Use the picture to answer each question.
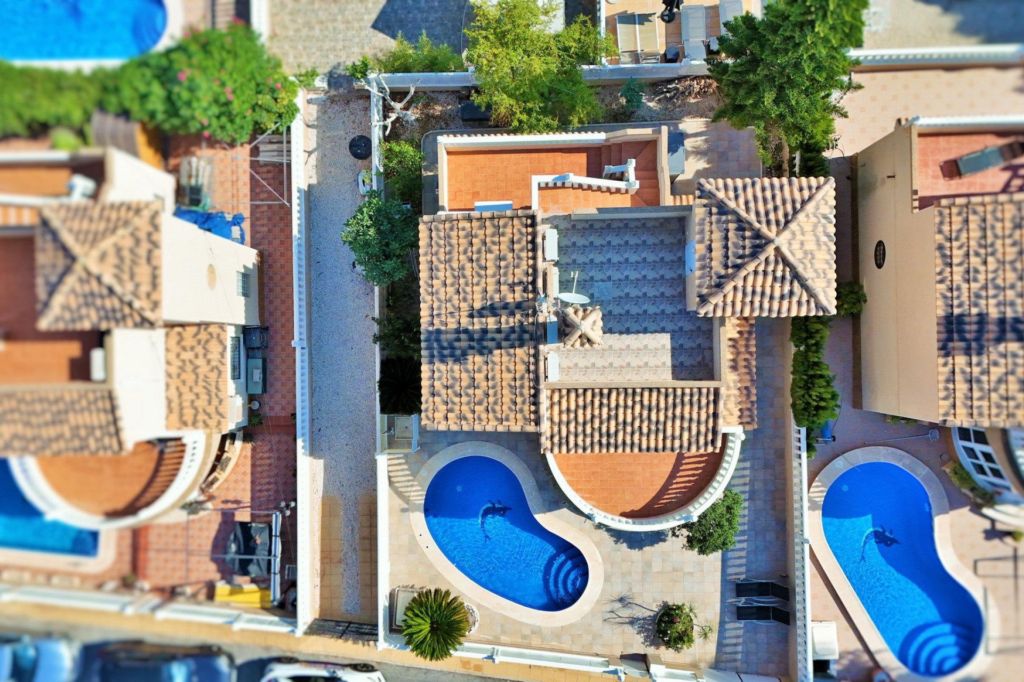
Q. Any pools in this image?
Yes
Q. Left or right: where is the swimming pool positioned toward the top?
left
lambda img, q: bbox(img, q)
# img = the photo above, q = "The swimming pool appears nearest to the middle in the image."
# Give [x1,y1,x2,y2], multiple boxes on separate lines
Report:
[409,441,604,627]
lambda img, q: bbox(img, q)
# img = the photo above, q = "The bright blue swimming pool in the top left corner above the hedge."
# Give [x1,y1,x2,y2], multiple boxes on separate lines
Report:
[0,0,181,75]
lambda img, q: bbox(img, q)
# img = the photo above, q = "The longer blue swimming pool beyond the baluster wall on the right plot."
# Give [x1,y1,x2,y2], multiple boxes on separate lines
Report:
[809,447,1001,682]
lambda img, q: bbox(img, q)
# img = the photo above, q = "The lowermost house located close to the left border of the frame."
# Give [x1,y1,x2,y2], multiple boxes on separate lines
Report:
[0,147,259,540]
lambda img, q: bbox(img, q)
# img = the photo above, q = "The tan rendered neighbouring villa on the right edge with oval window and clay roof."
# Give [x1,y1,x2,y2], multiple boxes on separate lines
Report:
[855,122,1024,527]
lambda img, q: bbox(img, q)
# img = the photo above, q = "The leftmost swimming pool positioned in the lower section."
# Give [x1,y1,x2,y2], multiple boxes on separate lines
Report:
[0,455,113,572]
